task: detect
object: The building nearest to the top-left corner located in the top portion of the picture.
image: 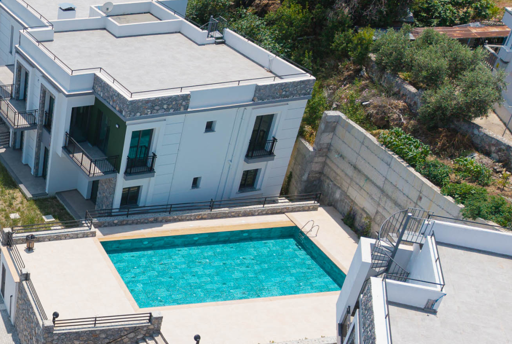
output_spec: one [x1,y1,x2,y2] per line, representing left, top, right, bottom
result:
[0,0,323,237]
